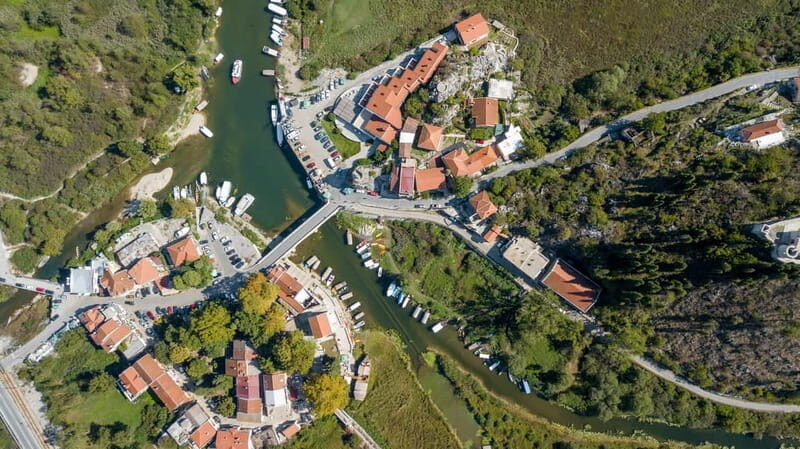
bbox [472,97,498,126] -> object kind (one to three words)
house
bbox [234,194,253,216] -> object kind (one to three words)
boat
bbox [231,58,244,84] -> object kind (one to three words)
boat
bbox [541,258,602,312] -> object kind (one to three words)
building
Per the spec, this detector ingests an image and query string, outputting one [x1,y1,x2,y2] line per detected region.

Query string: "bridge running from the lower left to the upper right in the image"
[257,200,337,269]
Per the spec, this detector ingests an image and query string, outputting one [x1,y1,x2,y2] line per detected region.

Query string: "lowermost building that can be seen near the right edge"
[758,216,800,262]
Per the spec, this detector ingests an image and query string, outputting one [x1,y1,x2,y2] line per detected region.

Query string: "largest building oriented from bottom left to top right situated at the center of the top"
[359,41,448,130]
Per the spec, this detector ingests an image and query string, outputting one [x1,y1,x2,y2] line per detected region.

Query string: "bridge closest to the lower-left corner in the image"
[9,275,64,299]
